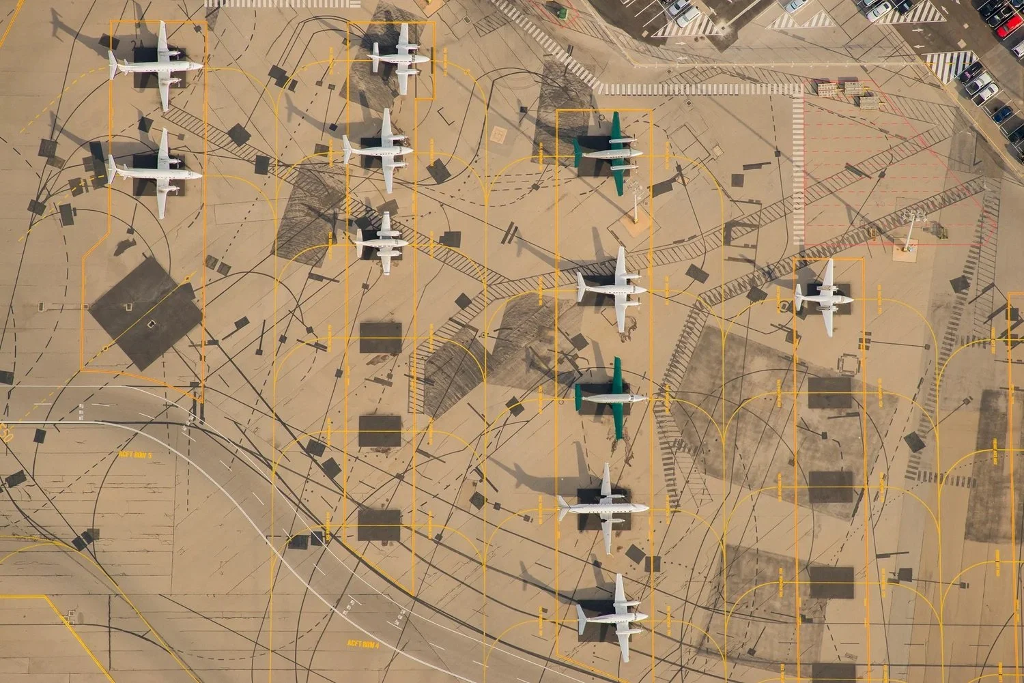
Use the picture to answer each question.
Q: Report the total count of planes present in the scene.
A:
11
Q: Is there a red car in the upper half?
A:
Yes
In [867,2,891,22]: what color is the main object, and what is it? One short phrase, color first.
white car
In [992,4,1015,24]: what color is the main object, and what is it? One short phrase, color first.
black car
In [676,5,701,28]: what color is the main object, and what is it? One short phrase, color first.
white vehicle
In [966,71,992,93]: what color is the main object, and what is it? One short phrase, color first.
white vehicle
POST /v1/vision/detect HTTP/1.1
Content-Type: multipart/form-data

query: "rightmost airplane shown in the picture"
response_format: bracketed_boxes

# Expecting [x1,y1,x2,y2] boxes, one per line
[794,260,853,336]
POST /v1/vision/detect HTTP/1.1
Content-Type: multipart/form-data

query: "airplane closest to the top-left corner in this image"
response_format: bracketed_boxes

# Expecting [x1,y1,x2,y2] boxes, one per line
[106,22,203,110]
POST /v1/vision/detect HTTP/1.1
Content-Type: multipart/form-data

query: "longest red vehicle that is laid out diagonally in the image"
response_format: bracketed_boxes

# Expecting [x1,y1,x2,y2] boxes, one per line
[1000,15,1023,35]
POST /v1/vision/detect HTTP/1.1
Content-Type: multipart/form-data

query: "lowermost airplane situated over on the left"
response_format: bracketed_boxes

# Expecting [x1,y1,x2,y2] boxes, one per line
[351,212,408,273]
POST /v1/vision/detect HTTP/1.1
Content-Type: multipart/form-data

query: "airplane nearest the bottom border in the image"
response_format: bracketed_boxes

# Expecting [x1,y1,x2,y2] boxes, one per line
[576,575,647,660]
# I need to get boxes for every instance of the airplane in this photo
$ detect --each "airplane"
[576,575,647,660]
[573,114,643,194]
[794,260,853,336]
[106,22,203,110]
[366,25,430,92]
[573,356,647,440]
[104,128,202,217]
[342,110,414,191]
[558,464,650,553]
[351,212,408,273]
[576,249,646,331]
